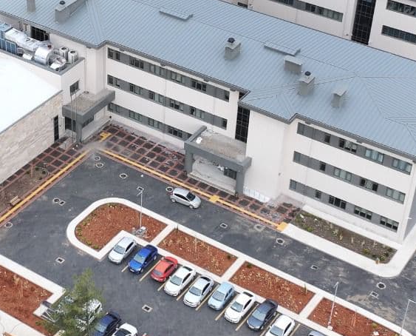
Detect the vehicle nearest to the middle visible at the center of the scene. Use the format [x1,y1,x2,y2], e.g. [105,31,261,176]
[169,186,202,210]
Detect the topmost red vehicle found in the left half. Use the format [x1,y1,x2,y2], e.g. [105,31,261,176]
[148,253,180,284]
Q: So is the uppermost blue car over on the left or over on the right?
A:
left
